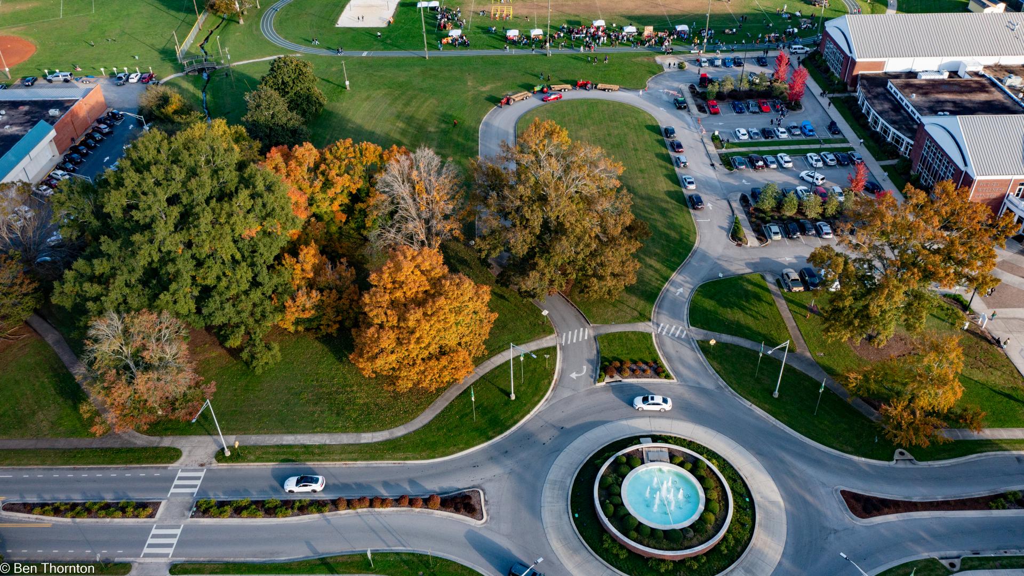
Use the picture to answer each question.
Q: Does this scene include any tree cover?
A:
Yes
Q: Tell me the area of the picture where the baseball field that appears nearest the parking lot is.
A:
top left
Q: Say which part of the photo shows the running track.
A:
top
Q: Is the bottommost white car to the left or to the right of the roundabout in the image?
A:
left of it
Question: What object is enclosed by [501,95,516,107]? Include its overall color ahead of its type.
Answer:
red vehicle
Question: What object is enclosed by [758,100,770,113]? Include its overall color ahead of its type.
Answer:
red vehicle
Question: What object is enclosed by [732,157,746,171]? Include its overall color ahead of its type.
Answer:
blue car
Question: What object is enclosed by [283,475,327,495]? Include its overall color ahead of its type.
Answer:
white car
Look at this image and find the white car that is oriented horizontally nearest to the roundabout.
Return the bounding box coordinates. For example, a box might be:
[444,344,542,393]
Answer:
[632,395,673,413]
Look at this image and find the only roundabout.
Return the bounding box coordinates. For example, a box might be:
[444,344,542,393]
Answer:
[541,417,789,576]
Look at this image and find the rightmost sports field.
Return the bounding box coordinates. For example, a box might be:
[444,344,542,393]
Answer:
[427,0,776,32]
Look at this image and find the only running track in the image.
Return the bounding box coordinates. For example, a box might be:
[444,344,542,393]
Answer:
[261,0,861,56]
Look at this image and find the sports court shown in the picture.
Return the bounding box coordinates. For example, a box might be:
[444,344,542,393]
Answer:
[336,0,400,27]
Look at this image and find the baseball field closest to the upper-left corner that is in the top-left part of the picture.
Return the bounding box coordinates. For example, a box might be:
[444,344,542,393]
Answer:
[0,36,35,68]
